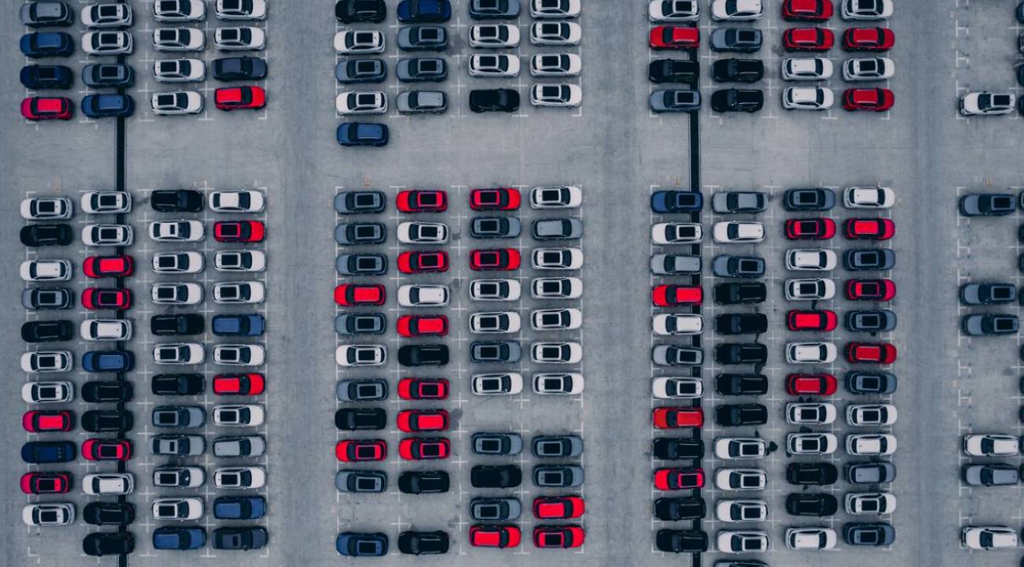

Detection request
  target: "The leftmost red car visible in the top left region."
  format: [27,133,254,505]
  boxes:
[22,94,75,121]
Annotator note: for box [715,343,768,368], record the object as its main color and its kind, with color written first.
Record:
black car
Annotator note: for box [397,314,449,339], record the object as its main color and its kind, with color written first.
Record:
red car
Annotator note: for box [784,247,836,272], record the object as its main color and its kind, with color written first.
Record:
white car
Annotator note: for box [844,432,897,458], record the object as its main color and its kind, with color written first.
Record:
white car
